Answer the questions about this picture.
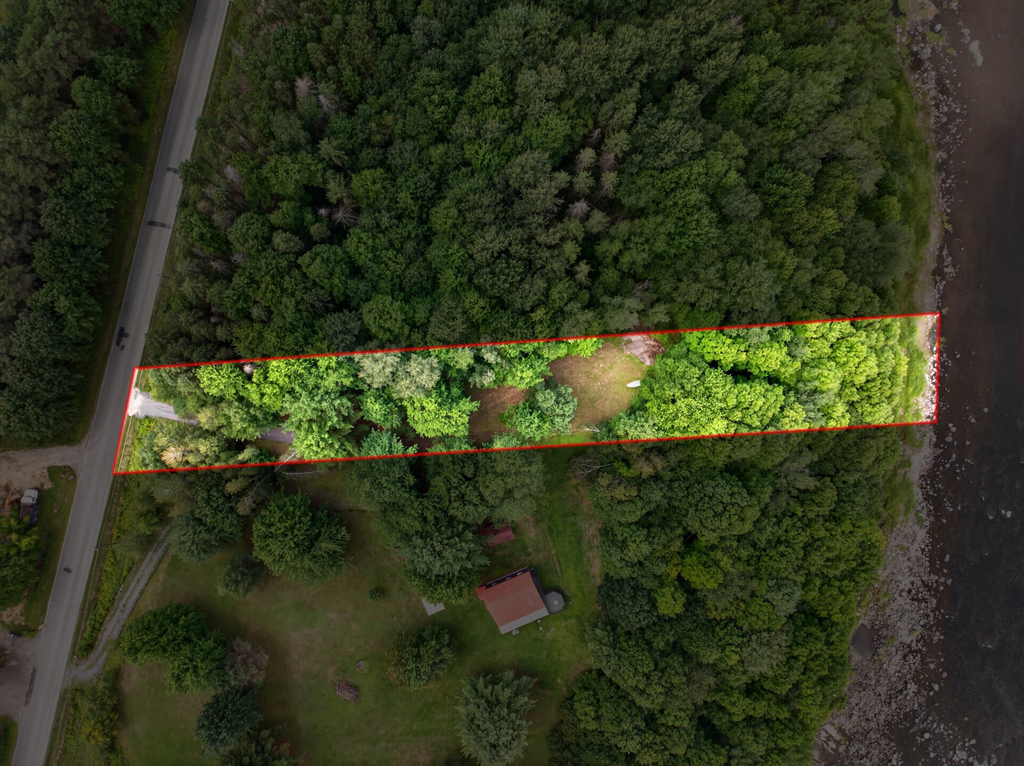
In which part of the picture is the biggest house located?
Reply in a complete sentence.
You can find the biggest house in the bottom area of the picture.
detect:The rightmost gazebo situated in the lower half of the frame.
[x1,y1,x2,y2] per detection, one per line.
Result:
[545,590,565,612]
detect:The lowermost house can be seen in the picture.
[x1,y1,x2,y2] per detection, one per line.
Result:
[477,565,548,633]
